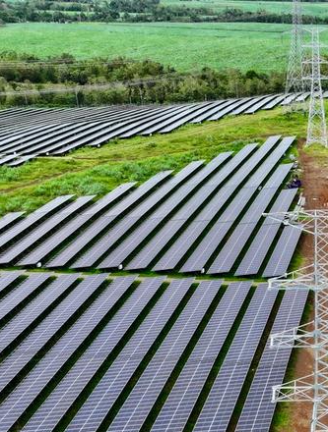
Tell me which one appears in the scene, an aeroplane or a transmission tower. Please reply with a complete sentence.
The one in the frame is a transmission tower.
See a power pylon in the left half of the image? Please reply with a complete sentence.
No, I can find no power pylon in the left half of the image.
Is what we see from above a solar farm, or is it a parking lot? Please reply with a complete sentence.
The area seen from above is a solar farm.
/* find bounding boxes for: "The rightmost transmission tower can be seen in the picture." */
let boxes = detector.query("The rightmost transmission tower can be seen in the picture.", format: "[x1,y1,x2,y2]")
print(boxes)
[300,19,328,146]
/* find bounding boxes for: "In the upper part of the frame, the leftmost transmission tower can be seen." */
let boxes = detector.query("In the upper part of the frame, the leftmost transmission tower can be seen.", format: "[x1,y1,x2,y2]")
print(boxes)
[280,0,305,97]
